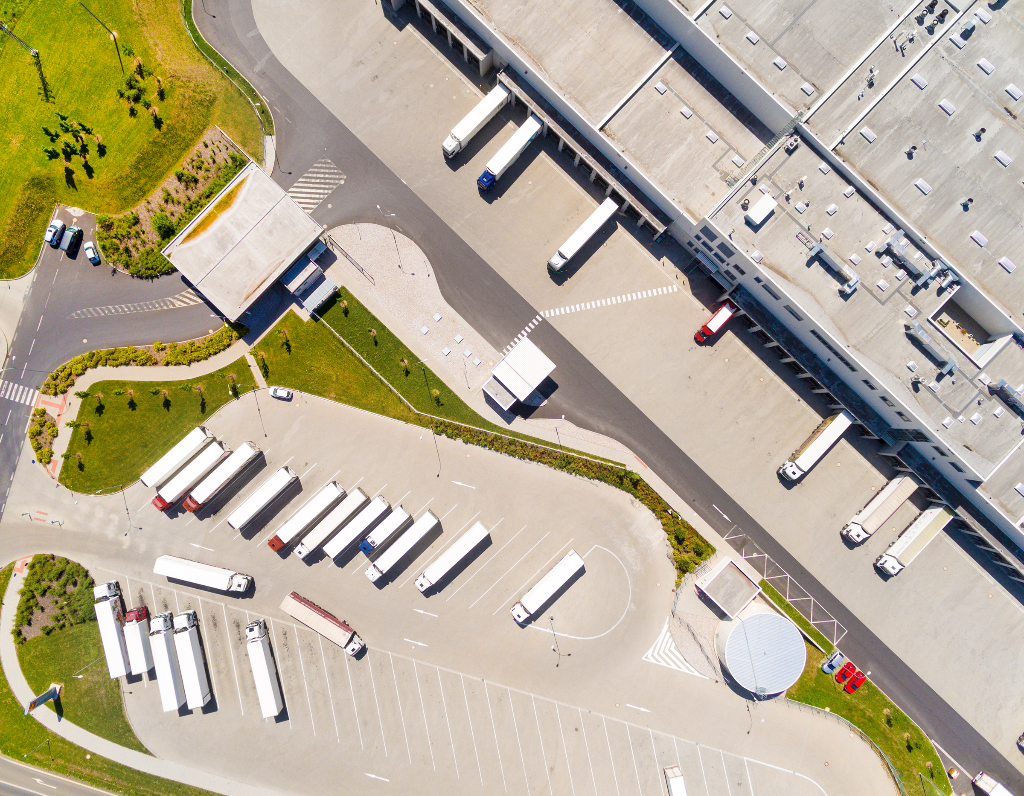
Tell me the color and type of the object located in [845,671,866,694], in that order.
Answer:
red car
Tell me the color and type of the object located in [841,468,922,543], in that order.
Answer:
white truck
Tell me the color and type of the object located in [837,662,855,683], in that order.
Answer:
red car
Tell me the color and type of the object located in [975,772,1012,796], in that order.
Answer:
white truck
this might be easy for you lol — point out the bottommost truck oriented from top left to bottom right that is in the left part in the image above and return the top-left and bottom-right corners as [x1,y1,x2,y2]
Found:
[280,590,369,653]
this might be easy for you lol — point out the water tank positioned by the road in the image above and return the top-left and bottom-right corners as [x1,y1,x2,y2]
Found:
[715,602,807,699]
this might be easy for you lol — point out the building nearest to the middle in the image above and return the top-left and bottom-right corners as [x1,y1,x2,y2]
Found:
[481,336,556,412]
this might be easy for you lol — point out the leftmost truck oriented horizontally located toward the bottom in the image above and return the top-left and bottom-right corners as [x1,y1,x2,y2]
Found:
[153,555,253,594]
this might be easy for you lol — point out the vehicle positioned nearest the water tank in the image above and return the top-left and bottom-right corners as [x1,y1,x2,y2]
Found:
[822,650,843,674]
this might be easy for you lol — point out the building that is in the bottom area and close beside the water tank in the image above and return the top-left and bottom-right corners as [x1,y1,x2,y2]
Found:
[695,554,762,619]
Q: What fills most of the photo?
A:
paved ground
